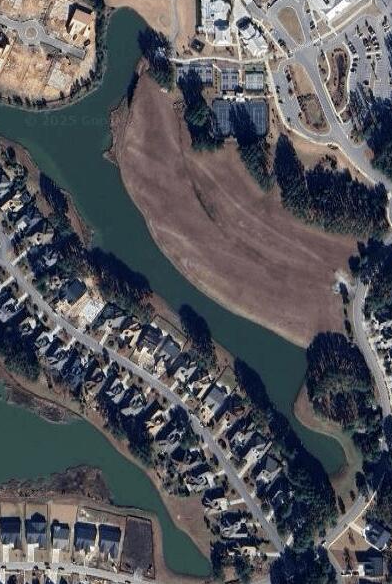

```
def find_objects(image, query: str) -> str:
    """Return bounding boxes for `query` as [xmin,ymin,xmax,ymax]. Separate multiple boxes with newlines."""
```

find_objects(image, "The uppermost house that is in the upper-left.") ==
[67,5,97,31]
